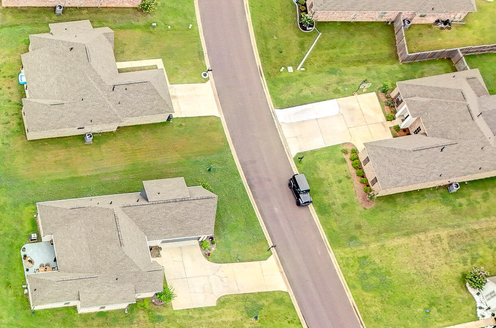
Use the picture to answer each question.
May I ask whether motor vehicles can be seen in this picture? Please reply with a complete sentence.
Yes, you can see a motor vehicle in this photo.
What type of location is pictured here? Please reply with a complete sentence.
This image shows a residential area.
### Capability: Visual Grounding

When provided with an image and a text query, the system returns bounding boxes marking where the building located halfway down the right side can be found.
[357,67,496,196]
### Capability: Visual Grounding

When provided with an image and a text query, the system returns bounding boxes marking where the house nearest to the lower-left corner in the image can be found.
[26,174,216,314]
